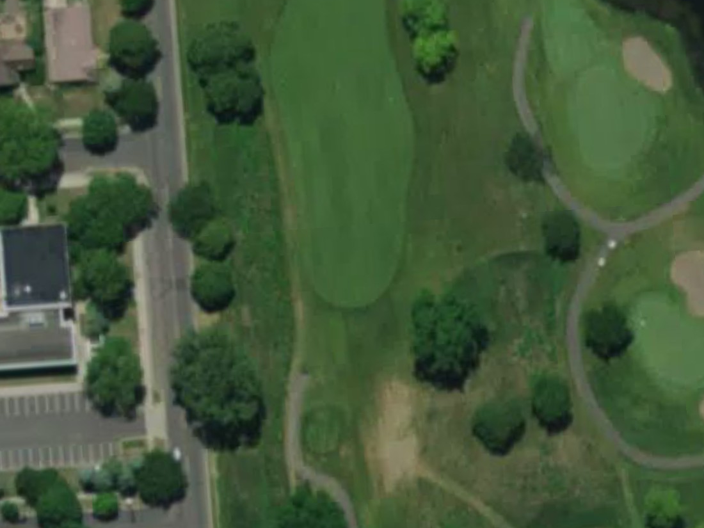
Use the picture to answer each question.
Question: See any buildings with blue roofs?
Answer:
No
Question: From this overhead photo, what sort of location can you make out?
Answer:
golf course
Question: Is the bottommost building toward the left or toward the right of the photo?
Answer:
left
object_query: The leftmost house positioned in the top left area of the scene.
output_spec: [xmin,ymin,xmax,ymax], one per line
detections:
[0,42,34,86]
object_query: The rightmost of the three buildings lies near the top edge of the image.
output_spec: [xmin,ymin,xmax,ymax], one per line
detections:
[45,2,97,82]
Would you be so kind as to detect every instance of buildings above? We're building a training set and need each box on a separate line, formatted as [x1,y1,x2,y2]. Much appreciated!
[45,2,97,82]
[0,226,76,368]
[0,42,34,86]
